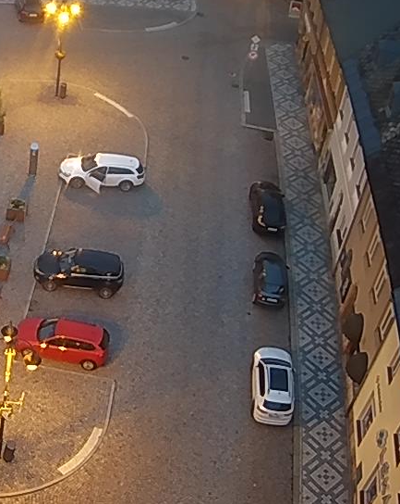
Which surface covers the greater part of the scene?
paved ground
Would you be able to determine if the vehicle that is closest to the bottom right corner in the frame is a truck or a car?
car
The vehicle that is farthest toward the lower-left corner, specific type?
automobile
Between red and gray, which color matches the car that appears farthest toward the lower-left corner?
red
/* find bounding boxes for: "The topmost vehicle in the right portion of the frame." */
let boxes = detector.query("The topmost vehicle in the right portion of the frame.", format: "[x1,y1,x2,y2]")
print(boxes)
[245,178,289,239]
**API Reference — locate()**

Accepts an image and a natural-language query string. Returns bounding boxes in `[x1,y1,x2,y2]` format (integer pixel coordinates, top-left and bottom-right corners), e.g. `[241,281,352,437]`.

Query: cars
[245,242,292,309]
[10,313,112,371]
[58,152,148,198]
[18,0,45,21]
[246,338,299,431]
[32,247,129,300]
[245,178,289,239]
